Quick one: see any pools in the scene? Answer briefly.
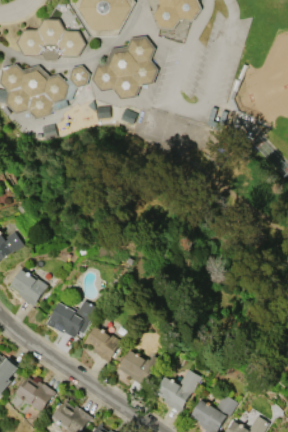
Yes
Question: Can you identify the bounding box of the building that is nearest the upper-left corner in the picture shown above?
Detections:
[18,10,83,60]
